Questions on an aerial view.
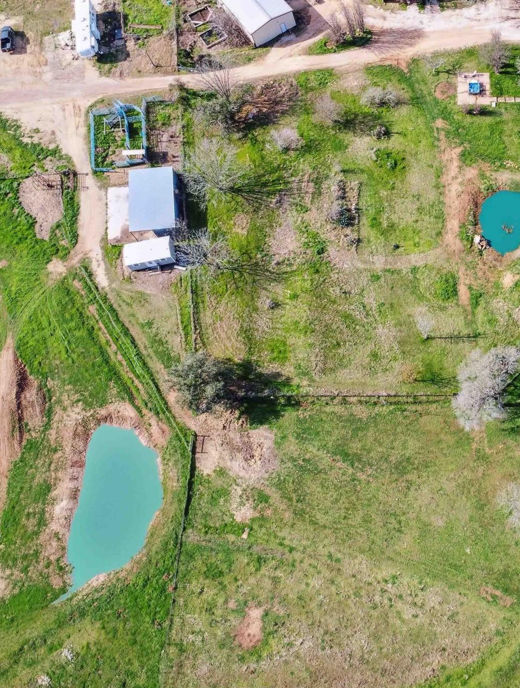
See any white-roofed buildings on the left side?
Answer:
Yes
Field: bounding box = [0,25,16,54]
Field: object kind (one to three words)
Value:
vehicle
